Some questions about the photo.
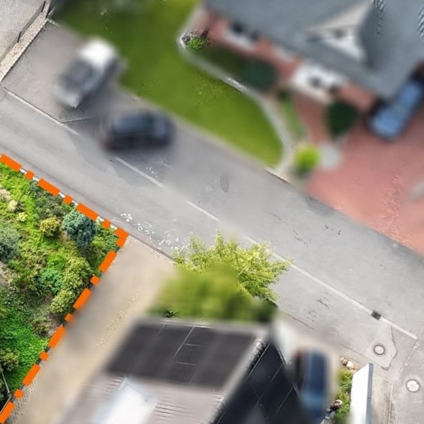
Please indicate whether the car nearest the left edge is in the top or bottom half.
top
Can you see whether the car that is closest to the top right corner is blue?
Yes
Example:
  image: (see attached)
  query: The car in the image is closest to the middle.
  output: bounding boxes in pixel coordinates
[98,109,174,152]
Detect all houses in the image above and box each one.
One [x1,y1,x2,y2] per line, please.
[64,317,314,424]
[187,0,424,115]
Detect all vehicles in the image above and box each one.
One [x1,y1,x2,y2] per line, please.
[287,341,341,423]
[368,74,424,137]
[98,109,174,152]
[59,37,123,107]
